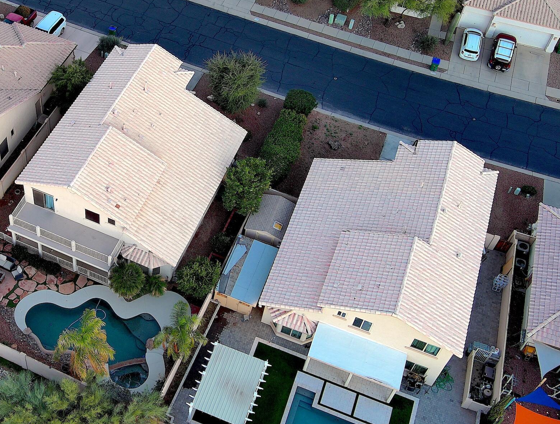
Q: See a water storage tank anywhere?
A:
No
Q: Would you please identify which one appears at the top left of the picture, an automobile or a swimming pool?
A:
automobile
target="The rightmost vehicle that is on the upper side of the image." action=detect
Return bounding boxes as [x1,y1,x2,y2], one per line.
[485,34,519,77]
